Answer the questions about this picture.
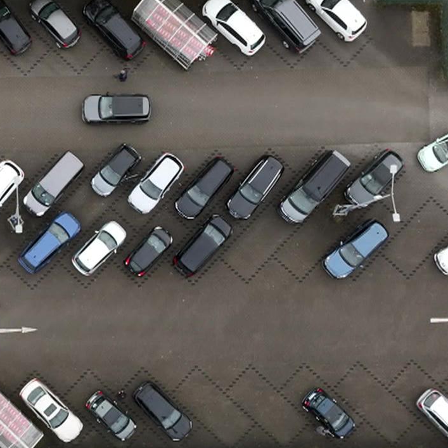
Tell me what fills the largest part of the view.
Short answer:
paved ground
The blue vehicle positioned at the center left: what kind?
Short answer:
car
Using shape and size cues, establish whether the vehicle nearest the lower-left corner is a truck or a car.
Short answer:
car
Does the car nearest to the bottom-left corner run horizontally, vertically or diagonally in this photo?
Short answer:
diagonally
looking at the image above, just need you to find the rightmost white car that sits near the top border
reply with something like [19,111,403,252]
[309,0,368,45]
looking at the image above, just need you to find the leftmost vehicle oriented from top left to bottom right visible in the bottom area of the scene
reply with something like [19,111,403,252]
[19,376,82,441]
